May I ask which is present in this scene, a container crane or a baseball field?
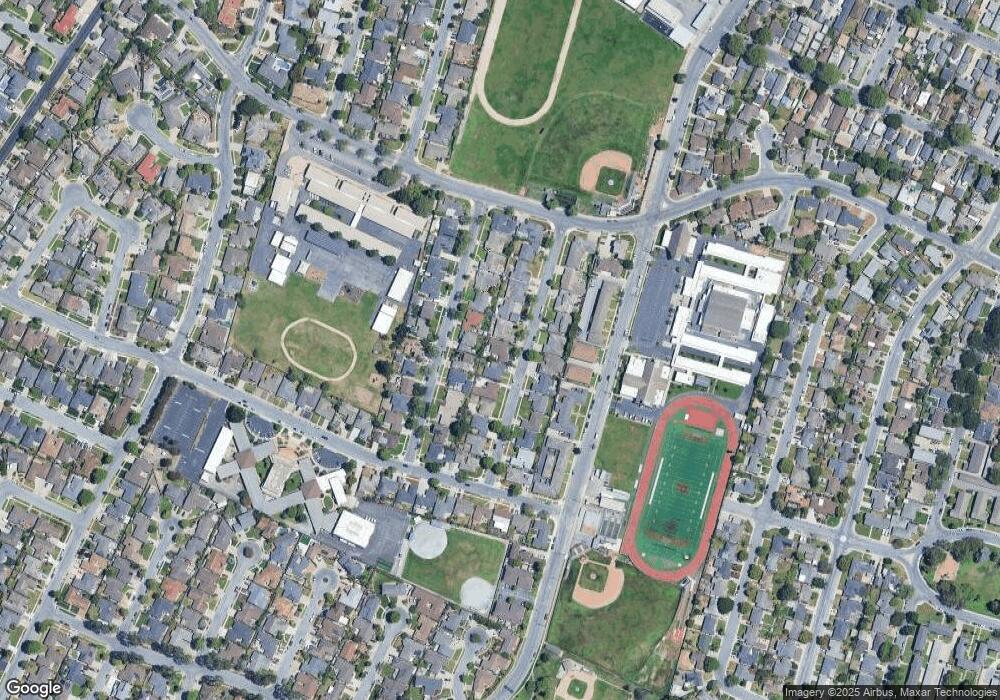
baseball field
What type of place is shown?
residential area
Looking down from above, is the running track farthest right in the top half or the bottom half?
top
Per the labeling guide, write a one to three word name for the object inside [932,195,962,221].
house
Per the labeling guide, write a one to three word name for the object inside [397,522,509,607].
baseball field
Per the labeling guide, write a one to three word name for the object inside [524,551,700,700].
sports field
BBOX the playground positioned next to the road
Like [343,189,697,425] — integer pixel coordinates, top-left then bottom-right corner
[934,551,959,582]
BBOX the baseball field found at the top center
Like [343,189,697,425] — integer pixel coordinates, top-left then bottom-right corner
[579,150,633,201]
